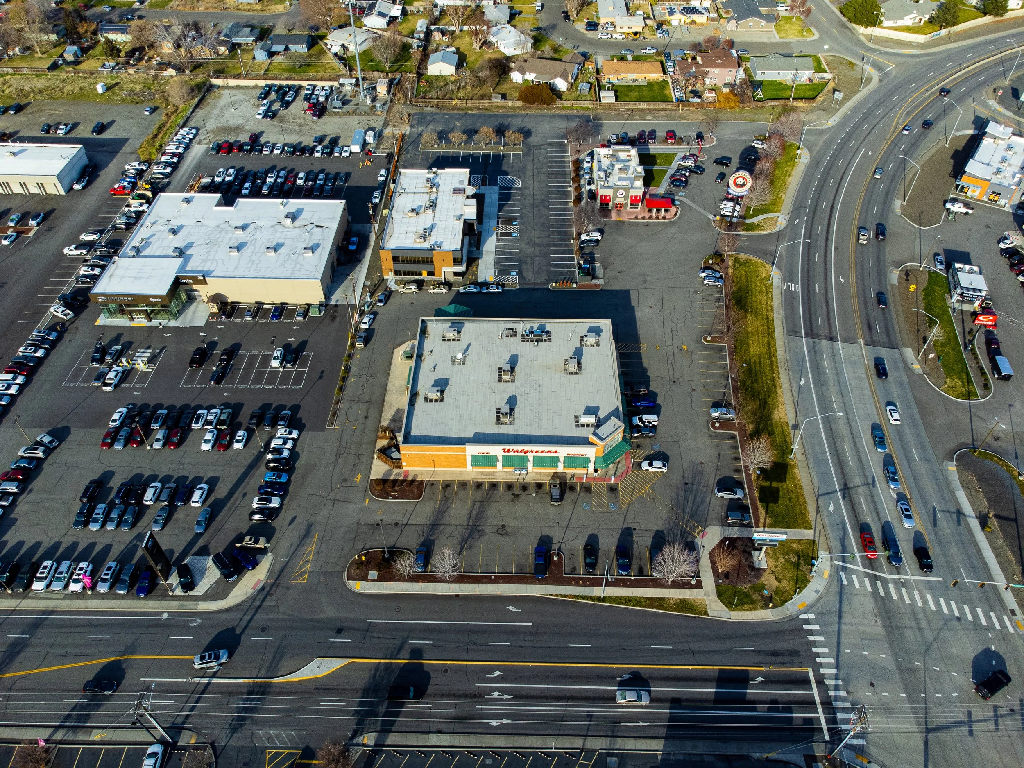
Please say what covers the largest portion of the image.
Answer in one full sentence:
For the most part, this view shows paved ground.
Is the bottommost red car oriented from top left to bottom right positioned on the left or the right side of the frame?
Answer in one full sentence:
It is on the right.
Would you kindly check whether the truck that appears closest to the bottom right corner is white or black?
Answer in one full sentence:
The truck that appears closest to the bottom right corner looks black in the image.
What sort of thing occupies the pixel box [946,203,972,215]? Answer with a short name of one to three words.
vehicle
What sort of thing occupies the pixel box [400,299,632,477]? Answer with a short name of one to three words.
building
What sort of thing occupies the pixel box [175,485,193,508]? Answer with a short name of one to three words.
car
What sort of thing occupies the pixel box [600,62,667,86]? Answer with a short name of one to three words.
house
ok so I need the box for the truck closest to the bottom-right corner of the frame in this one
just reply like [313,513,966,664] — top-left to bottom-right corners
[973,670,1011,703]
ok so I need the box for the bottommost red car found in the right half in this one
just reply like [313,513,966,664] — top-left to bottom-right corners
[858,533,880,560]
